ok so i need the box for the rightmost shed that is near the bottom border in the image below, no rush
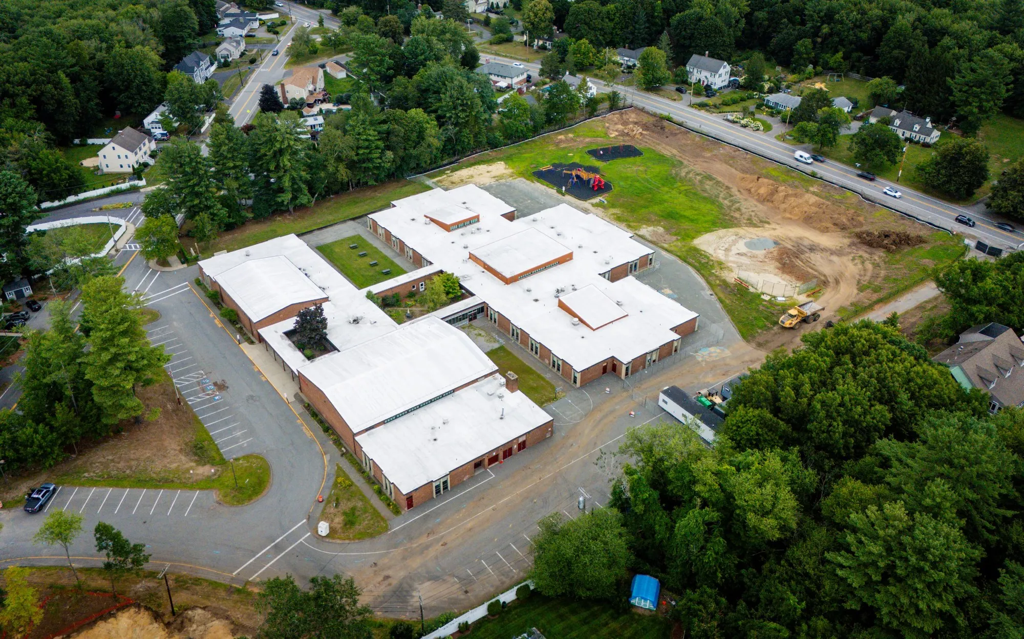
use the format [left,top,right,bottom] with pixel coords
[629,564,664,610]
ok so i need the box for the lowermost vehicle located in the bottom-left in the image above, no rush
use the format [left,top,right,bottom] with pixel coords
[23,481,55,506]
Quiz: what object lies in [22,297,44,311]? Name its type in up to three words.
car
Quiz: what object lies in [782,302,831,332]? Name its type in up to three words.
truck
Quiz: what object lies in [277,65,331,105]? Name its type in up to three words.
house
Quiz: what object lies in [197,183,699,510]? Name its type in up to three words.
building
